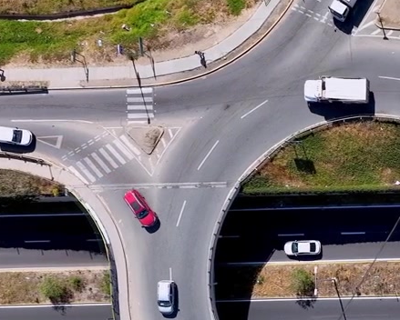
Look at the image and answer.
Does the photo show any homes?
No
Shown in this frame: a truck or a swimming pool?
truck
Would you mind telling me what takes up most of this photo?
paved ground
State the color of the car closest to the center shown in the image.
red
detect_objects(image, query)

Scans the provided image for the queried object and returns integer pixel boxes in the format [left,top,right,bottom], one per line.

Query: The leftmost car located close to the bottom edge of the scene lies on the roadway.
[158,281,178,314]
